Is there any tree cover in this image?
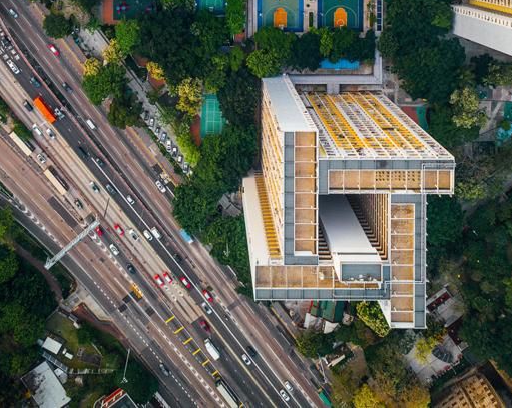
Yes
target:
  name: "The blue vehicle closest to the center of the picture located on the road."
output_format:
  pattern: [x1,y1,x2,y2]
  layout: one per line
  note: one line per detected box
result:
[178,225,195,244]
